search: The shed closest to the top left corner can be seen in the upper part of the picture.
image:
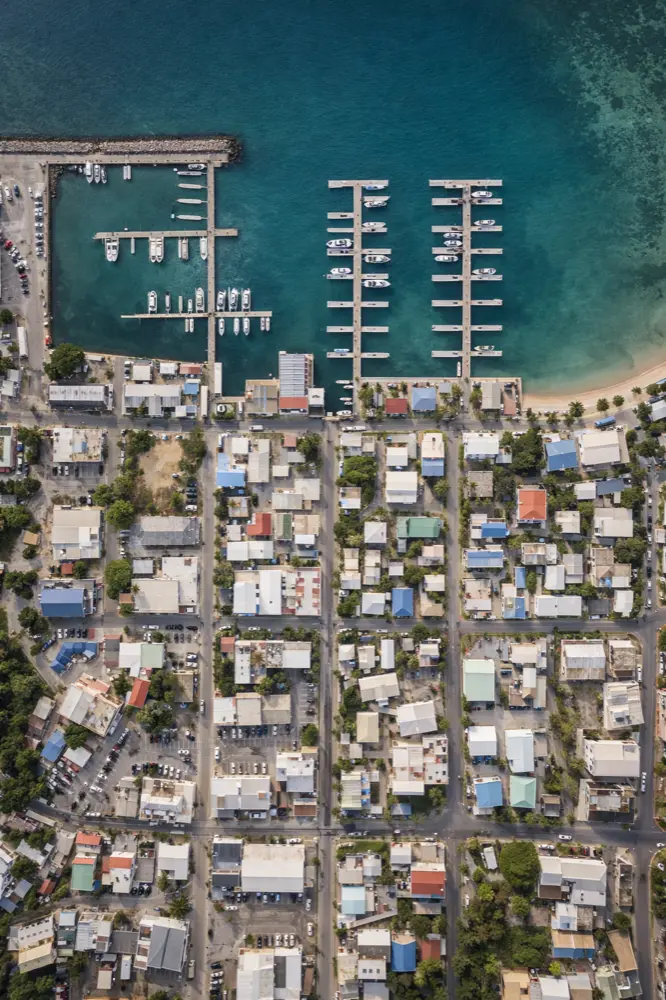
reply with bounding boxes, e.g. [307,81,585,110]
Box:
[17,327,29,357]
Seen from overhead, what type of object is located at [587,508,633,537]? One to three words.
house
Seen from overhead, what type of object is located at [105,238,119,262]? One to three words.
boat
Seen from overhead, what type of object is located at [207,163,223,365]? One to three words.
pier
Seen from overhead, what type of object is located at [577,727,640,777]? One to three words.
building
